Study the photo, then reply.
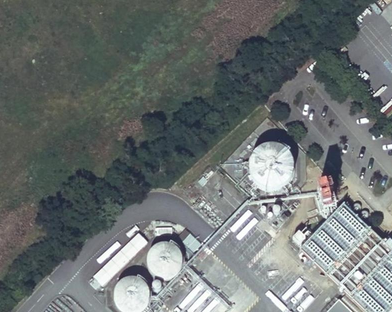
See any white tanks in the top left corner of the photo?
No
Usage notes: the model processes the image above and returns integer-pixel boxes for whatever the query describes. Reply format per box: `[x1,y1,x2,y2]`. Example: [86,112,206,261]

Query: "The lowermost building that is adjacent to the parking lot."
[301,202,392,312]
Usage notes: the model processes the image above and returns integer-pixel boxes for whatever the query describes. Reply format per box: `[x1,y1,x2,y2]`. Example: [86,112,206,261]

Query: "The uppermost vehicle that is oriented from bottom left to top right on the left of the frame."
[124,226,140,241]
